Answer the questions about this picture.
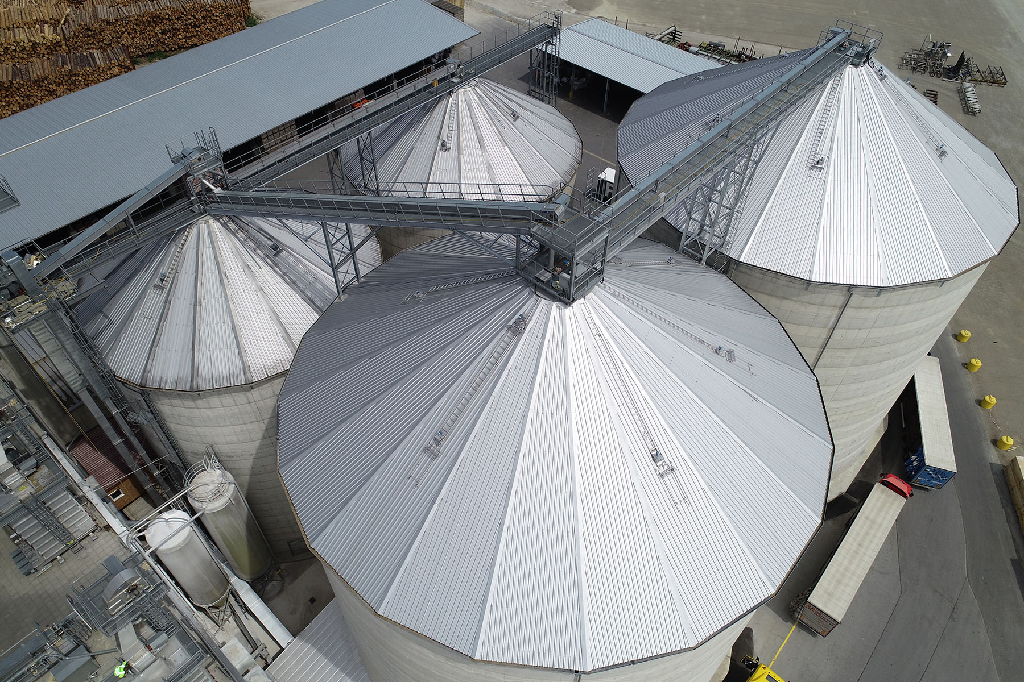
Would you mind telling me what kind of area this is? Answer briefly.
industrial area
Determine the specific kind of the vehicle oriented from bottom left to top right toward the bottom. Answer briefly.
truck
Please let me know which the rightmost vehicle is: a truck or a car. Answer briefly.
truck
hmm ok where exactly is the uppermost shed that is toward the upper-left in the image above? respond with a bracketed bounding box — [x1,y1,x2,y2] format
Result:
[0,0,481,254]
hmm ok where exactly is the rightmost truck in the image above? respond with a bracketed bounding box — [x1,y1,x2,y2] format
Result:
[898,348,957,493]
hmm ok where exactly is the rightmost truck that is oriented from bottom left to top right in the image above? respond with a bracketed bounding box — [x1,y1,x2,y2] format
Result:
[785,467,916,639]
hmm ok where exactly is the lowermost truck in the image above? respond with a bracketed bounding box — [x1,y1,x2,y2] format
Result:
[749,655,782,682]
